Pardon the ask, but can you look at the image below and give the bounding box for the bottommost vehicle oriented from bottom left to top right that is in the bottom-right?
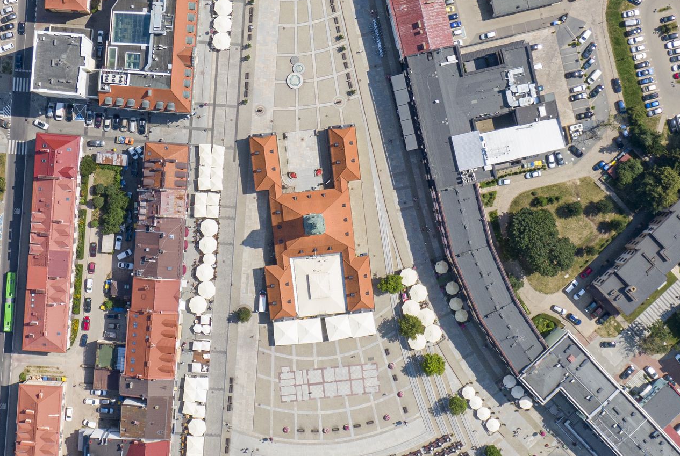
[620,365,635,379]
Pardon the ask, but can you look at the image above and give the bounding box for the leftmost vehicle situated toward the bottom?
[3,272,17,332]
